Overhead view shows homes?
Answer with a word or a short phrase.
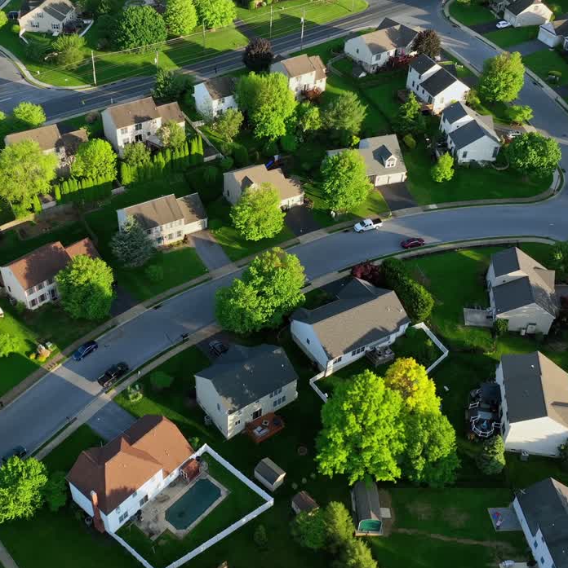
Yes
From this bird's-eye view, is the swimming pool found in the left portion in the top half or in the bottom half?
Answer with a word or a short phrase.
bottom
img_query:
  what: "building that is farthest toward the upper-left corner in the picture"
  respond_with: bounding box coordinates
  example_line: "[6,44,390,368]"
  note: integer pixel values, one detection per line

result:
[18,0,74,34]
